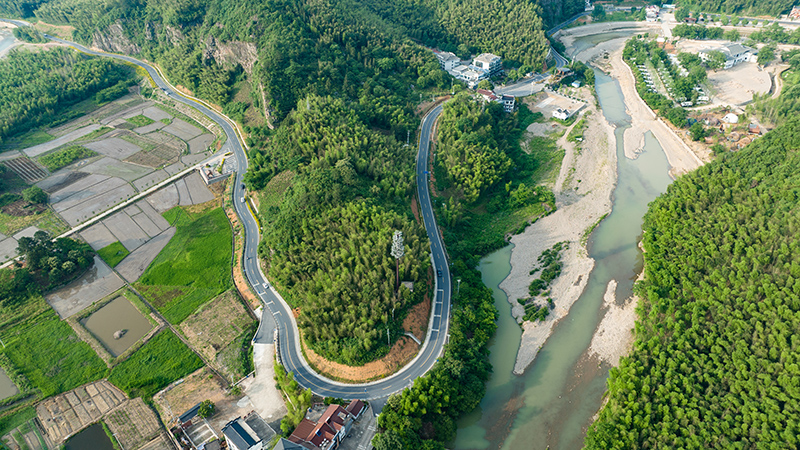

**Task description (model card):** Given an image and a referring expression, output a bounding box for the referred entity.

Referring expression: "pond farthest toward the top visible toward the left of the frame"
[74,291,159,362]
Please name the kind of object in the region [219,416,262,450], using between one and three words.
house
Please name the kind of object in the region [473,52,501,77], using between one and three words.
building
